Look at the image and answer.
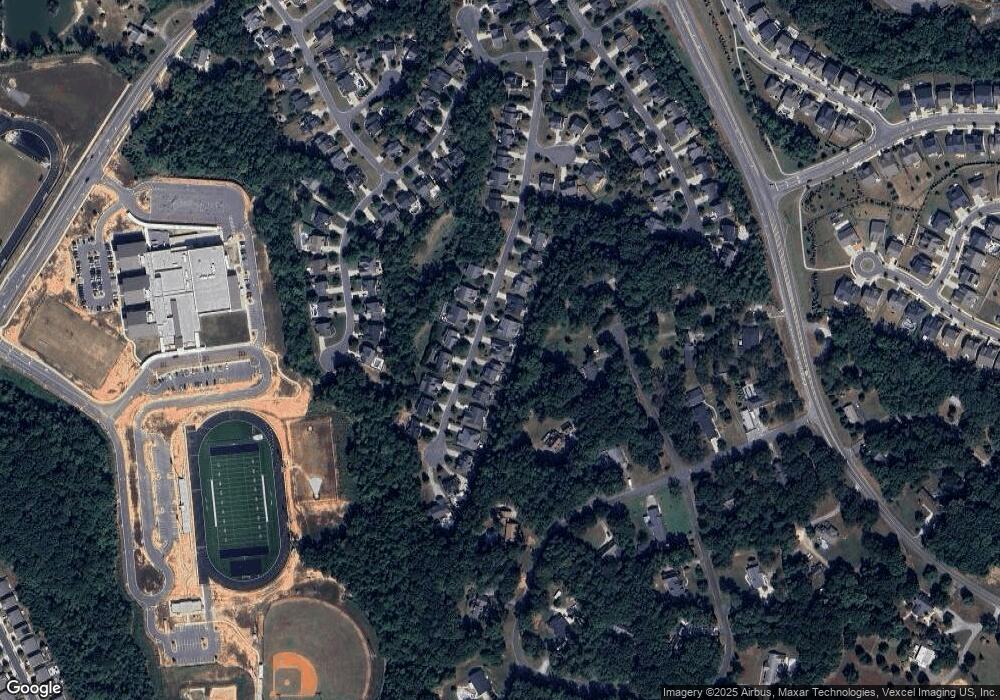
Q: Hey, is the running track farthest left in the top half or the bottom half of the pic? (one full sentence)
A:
The running track farthest left sits in the top half of the picture.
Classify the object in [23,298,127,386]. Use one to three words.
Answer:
sports field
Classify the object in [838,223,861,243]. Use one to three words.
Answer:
house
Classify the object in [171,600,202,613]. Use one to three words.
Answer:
building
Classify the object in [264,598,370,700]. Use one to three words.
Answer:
baseball field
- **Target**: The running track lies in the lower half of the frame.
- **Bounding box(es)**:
[187,408,291,592]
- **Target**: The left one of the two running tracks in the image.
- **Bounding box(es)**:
[0,118,62,277]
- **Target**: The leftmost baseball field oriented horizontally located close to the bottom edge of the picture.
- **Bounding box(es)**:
[156,665,256,700]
